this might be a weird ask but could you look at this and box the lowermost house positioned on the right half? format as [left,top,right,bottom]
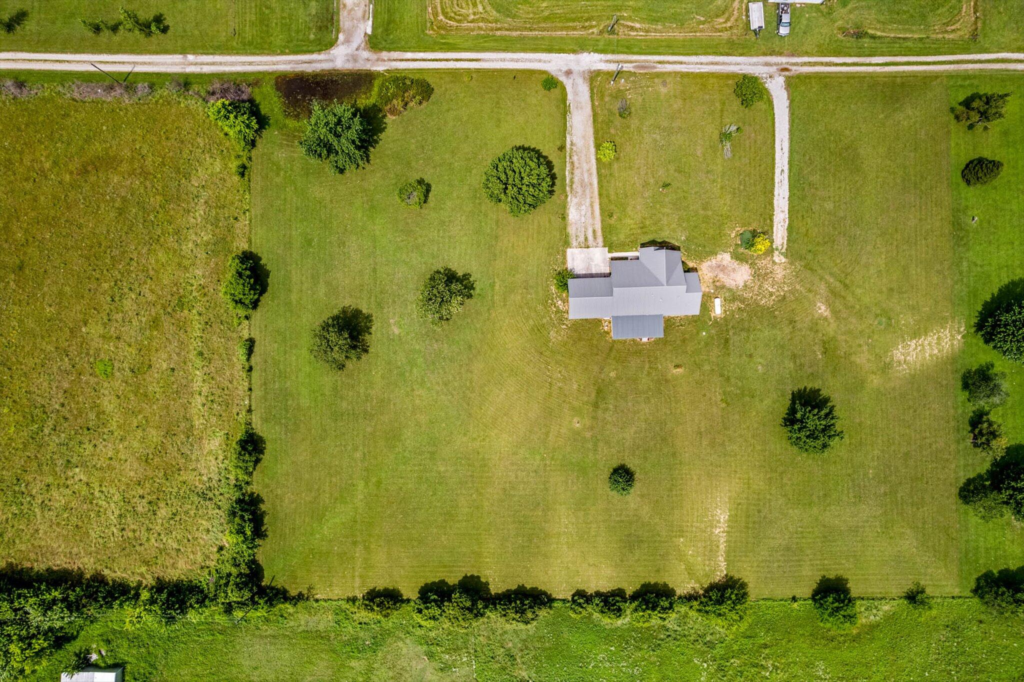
[568,246,702,342]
